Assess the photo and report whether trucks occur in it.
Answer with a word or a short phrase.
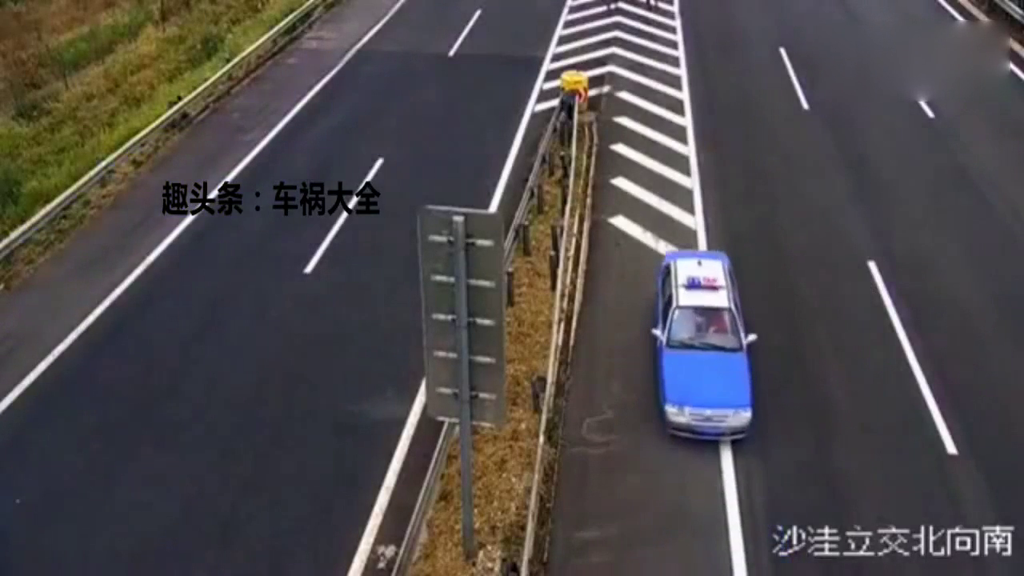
No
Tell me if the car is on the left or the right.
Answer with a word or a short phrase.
right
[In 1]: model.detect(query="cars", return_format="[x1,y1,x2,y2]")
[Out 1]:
[651,250,760,442]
